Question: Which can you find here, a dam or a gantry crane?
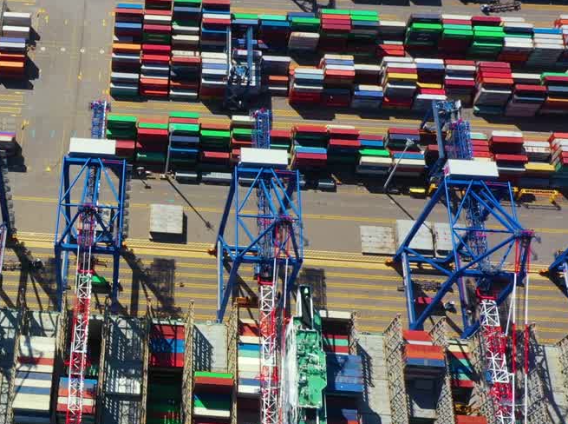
gantry crane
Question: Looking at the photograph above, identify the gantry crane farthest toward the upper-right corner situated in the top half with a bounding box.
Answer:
[415,103,465,190]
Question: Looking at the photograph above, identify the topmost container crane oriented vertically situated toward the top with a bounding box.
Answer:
[216,29,251,115]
